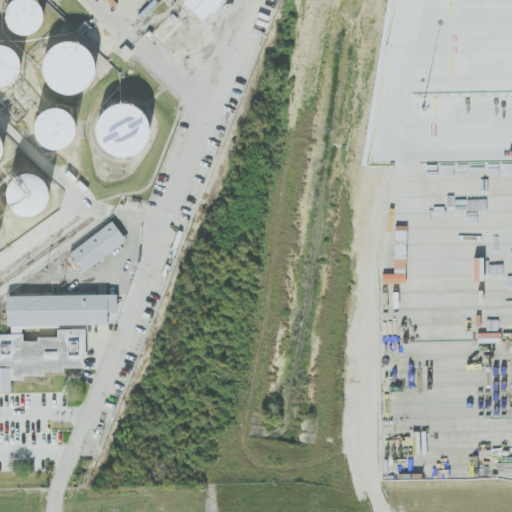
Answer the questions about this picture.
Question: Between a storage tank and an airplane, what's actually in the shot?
storage tank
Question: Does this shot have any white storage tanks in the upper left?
Yes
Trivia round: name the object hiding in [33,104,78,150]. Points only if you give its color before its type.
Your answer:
white storage tank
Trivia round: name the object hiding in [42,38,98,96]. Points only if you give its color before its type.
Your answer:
white storage tank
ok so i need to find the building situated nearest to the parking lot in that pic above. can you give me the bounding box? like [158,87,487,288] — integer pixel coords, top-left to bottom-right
[0,328,86,381]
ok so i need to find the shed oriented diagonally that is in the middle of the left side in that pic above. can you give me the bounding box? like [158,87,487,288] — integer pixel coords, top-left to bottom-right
[70,221,126,273]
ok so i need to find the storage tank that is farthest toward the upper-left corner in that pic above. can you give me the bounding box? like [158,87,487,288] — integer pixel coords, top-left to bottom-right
[3,0,46,36]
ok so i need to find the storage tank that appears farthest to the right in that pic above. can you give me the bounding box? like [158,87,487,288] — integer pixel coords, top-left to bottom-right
[96,100,152,158]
